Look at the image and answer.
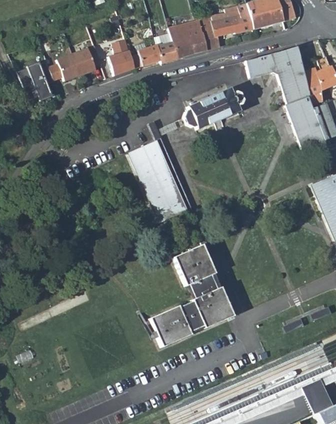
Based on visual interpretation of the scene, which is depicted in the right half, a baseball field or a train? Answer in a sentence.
The one visible in the right half is a train.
